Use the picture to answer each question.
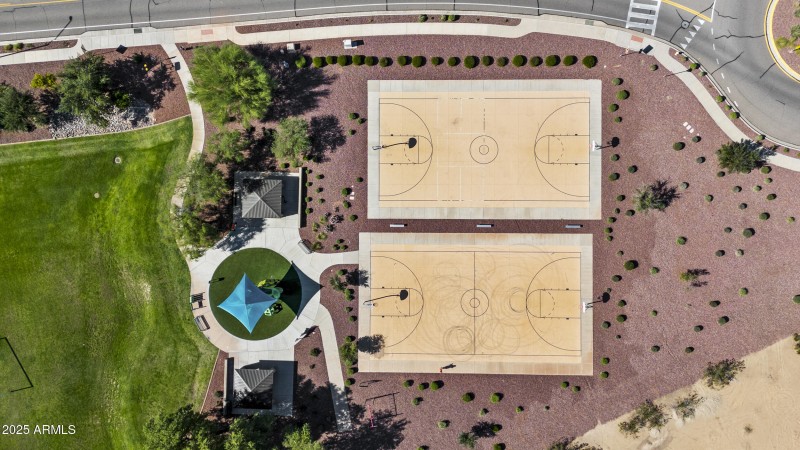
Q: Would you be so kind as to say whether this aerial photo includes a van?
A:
No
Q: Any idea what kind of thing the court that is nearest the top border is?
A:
basketball court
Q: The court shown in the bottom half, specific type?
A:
basketball court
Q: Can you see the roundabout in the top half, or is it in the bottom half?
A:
top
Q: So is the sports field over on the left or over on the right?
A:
left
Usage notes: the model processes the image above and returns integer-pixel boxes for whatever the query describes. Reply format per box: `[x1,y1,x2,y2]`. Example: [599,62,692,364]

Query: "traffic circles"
[713,0,800,137]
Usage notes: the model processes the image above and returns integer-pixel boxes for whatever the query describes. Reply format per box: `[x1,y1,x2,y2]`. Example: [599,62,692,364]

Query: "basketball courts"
[358,232,593,376]
[367,80,602,220]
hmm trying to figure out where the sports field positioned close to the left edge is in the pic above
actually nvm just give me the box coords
[0,113,220,450]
